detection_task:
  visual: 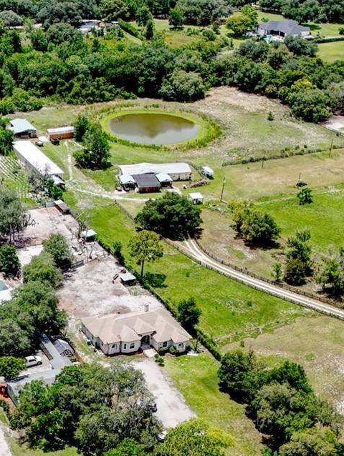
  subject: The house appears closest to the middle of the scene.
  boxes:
[111,164,193,198]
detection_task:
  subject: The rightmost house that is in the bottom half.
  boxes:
[83,302,193,357]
